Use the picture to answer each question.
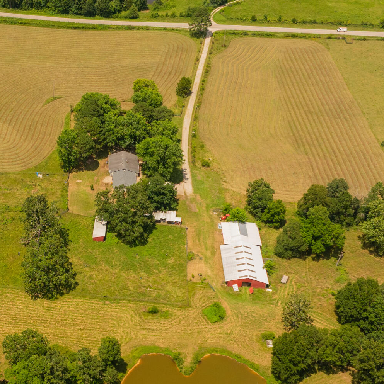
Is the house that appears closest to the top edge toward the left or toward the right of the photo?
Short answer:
left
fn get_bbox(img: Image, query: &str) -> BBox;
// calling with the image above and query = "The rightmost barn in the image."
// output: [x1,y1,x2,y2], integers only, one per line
[220,219,268,288]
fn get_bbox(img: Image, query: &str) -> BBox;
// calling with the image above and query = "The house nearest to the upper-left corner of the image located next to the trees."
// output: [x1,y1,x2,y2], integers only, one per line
[103,151,144,195]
